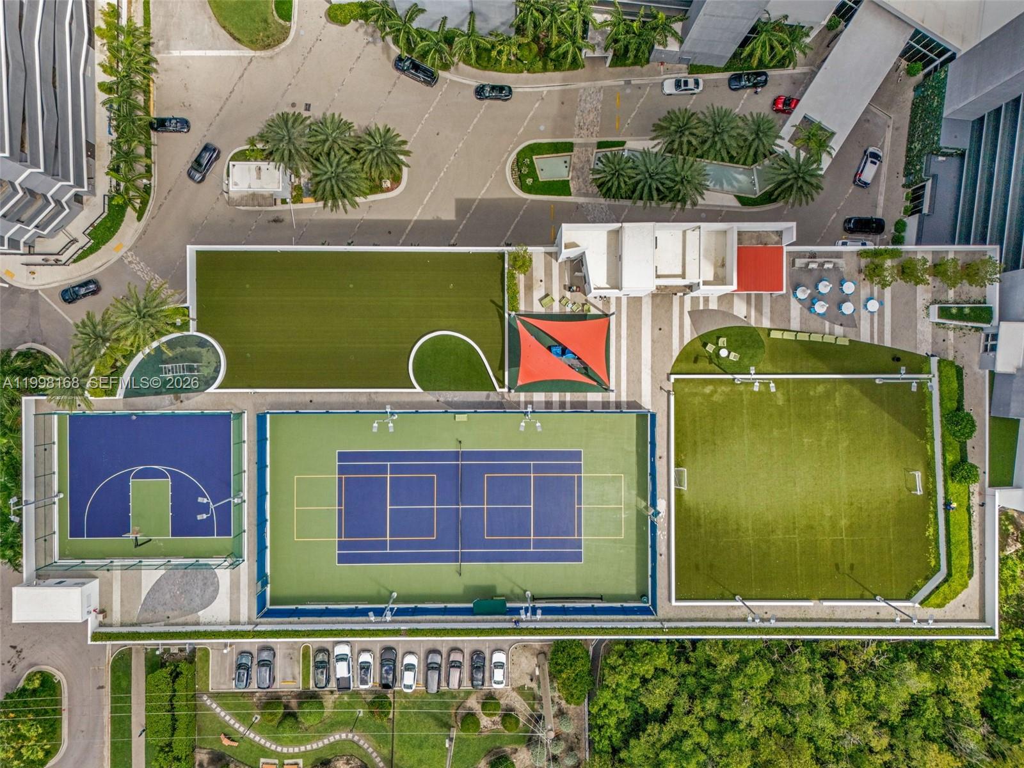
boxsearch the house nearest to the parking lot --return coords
[12,579,98,624]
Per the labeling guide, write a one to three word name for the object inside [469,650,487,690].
car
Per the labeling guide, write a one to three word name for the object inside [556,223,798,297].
building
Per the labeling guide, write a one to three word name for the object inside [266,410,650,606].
tennis court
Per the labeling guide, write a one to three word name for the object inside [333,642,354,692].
truck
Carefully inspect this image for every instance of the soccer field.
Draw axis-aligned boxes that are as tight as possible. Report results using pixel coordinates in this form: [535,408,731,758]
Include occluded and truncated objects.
[670,358,948,606]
